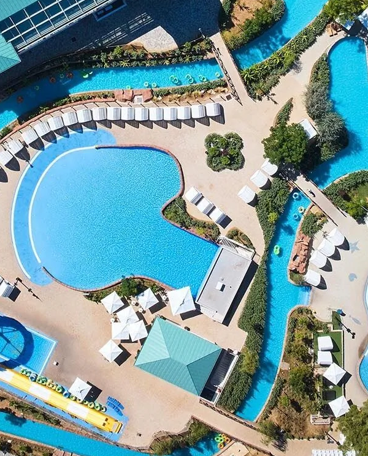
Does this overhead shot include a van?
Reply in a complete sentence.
No, the photo shows no van.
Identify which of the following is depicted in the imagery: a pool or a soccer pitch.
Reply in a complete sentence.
Of the two, only a pool appears.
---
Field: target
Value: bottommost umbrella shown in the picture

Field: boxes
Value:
[327,395,348,417]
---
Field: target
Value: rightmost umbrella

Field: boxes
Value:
[353,7,368,31]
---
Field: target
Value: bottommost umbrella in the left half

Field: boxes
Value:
[69,376,92,399]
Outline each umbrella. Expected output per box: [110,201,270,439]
[116,301,140,326]
[137,286,160,310]
[69,376,92,399]
[353,7,368,31]
[322,361,345,384]
[168,287,194,314]
[128,320,147,340]
[99,338,123,363]
[112,322,129,340]
[100,291,124,315]
[327,395,348,417]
